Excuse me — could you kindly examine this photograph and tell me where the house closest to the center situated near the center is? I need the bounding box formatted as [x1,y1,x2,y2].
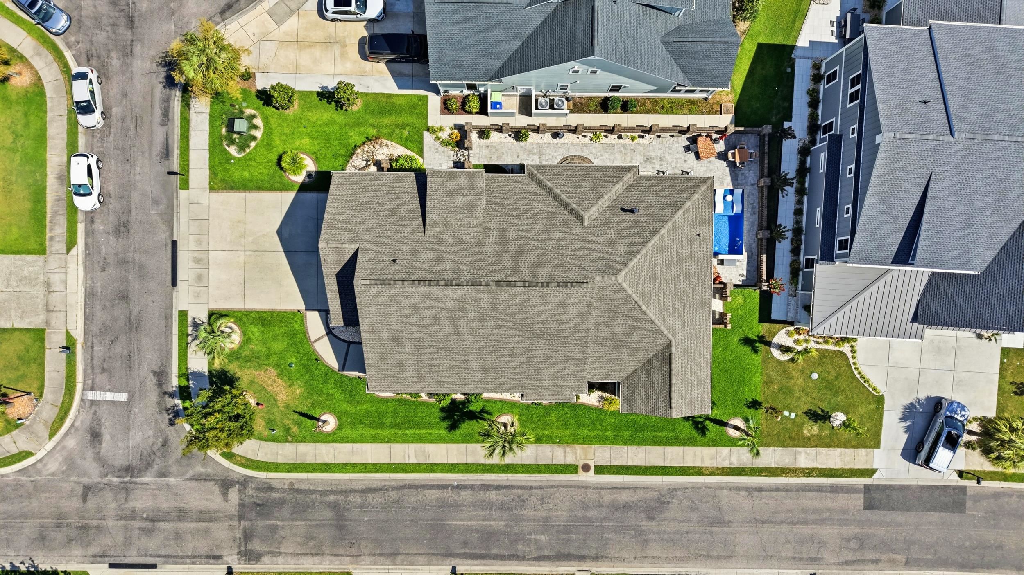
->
[319,162,715,418]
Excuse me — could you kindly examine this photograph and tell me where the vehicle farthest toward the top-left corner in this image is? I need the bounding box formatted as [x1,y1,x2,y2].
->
[7,0,69,35]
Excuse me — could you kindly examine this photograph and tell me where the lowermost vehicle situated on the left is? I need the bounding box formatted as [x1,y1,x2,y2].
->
[72,152,107,210]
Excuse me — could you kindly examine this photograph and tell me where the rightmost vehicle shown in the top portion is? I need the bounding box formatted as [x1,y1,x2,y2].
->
[365,30,429,65]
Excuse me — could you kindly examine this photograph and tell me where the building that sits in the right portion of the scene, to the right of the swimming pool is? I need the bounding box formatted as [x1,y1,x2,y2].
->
[793,0,1024,343]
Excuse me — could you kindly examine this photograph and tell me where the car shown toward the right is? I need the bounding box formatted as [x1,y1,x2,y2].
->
[916,400,968,471]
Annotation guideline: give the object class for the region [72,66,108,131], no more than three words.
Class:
car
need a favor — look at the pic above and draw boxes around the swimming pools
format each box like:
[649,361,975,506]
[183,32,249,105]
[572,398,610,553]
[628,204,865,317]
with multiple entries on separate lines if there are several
[712,184,747,259]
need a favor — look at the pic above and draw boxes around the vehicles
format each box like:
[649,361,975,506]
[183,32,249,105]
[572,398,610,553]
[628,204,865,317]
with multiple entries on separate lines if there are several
[72,66,108,131]
[365,30,429,65]
[916,400,968,471]
[7,0,69,35]
[323,0,388,24]
[72,152,107,210]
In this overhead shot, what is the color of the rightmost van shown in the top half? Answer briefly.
black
